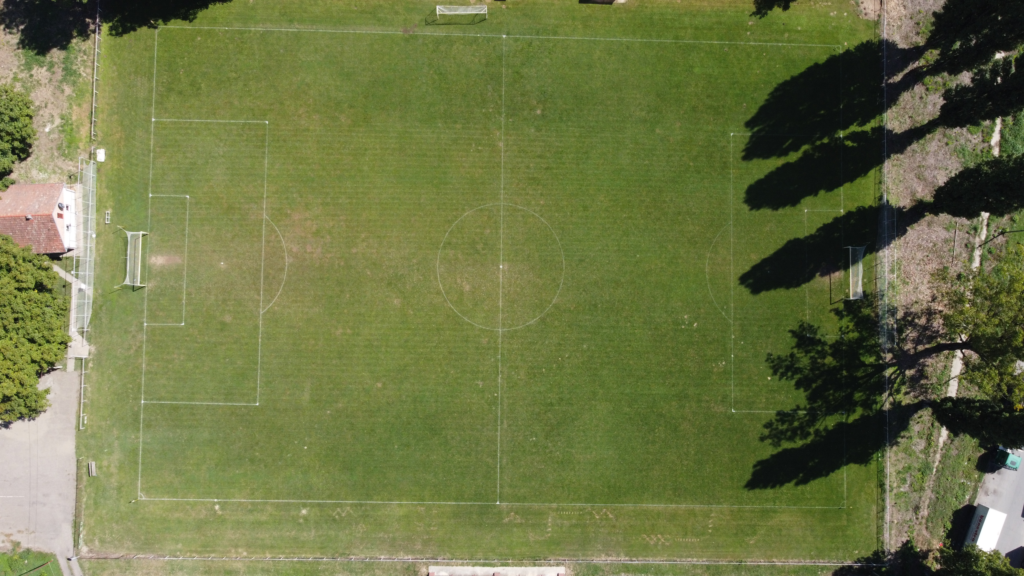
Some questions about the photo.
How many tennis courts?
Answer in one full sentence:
The picture shows no tennis courts.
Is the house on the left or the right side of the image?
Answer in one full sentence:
You can find the house on the left side of the picture.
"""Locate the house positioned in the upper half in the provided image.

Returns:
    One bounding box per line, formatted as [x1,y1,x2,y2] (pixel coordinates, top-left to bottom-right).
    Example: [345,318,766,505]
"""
[0,183,76,255]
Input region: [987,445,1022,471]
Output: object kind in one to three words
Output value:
truck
